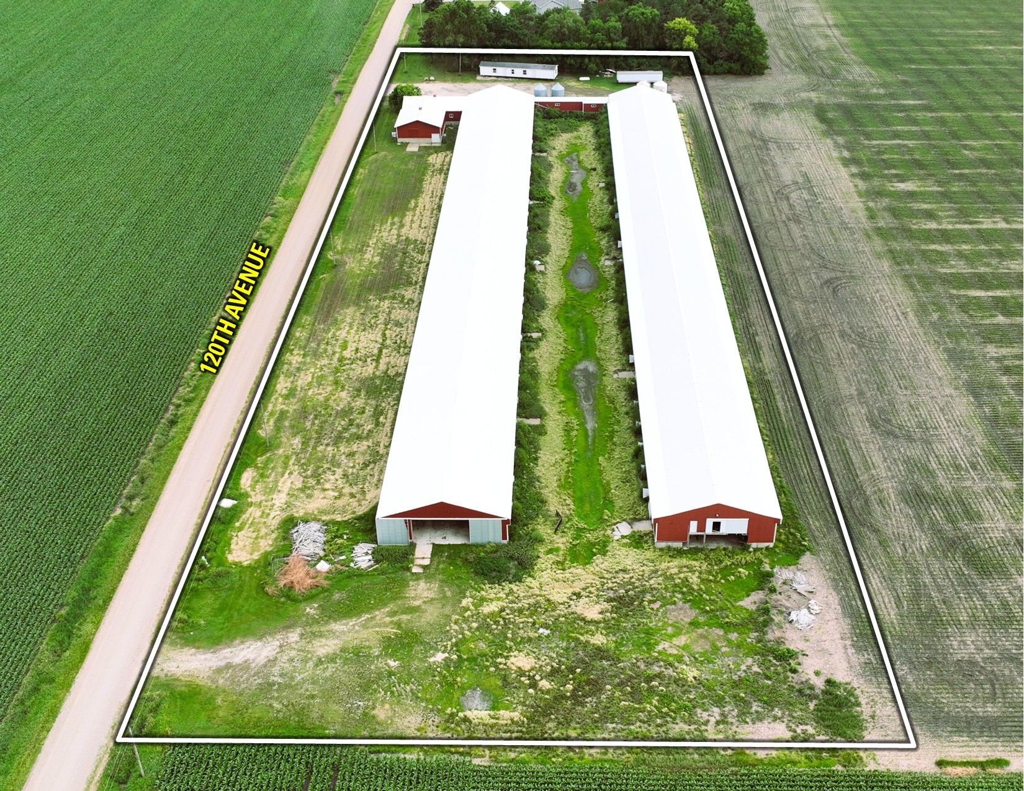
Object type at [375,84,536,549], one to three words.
barn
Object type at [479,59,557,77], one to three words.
house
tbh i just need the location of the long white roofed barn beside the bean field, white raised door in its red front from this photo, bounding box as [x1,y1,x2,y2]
[606,86,783,550]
